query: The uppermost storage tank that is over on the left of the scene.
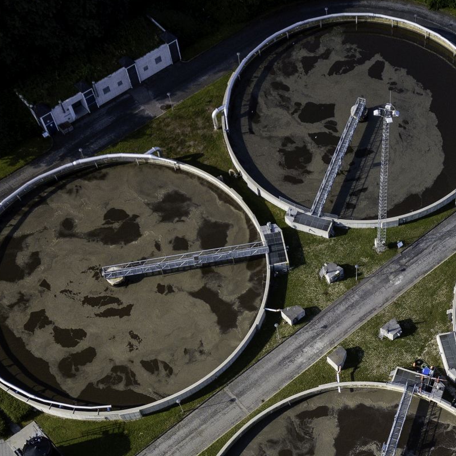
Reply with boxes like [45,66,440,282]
[0,148,290,421]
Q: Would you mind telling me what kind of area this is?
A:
industrial area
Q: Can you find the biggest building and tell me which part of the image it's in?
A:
top left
